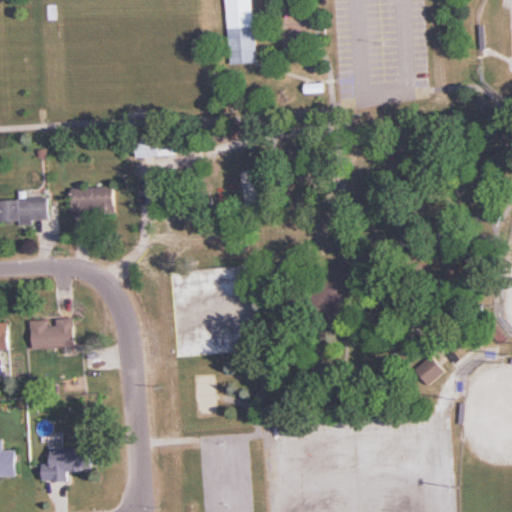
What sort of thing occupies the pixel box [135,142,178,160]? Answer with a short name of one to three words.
shed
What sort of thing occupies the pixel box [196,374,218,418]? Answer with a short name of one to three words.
sports court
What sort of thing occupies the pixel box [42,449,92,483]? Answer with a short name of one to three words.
house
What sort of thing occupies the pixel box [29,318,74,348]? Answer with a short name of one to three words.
house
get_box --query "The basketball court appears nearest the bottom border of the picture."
[202,436,254,512]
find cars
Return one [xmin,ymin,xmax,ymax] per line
[94,362,105,368]
[36,222,42,232]
[416,72,428,78]
[65,299,70,311]
[46,482,50,494]
[61,485,66,496]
